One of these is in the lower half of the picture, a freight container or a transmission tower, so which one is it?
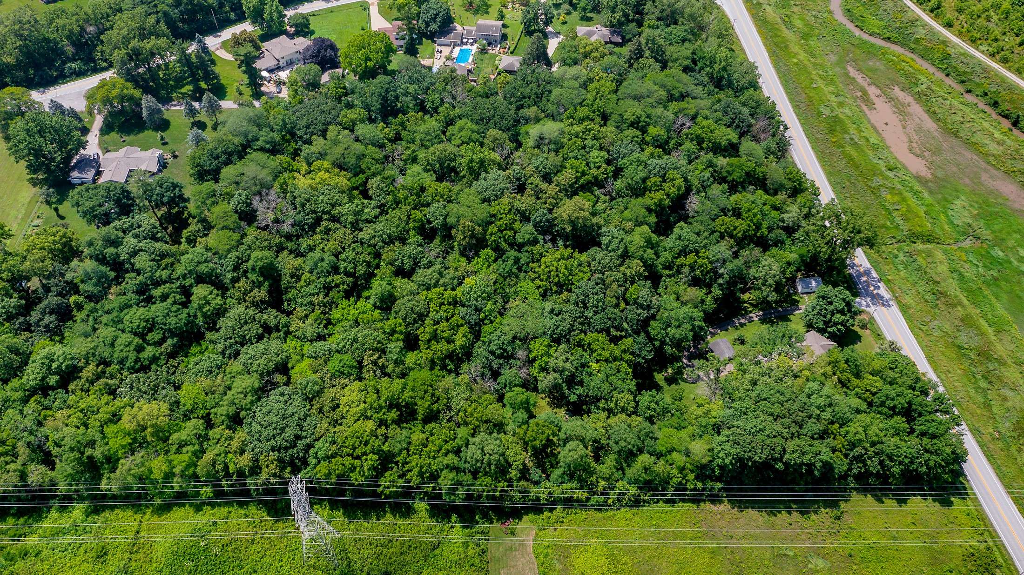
transmission tower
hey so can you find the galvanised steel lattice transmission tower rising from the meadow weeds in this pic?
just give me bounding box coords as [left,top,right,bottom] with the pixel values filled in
[285,476,340,567]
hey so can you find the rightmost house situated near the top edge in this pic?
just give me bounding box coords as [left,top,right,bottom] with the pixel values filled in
[577,23,625,52]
